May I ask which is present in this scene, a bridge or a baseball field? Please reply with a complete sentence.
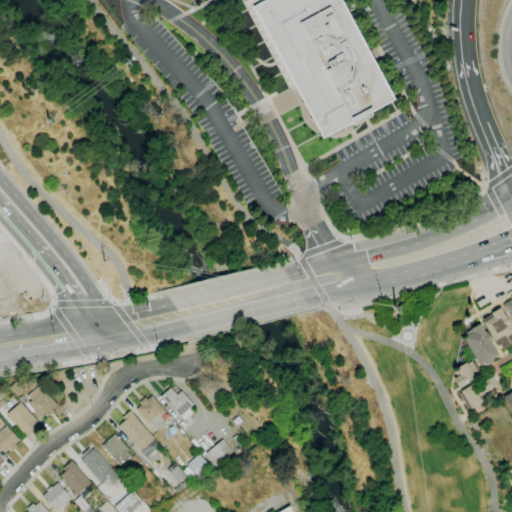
I can see a bridge in this picture.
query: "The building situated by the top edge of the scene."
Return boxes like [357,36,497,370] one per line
[252,0,396,137]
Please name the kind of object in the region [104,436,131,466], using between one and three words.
house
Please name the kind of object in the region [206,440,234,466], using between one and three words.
barn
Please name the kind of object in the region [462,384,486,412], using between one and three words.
house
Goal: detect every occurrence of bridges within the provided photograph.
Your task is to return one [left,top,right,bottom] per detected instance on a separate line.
[150,258,306,344]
